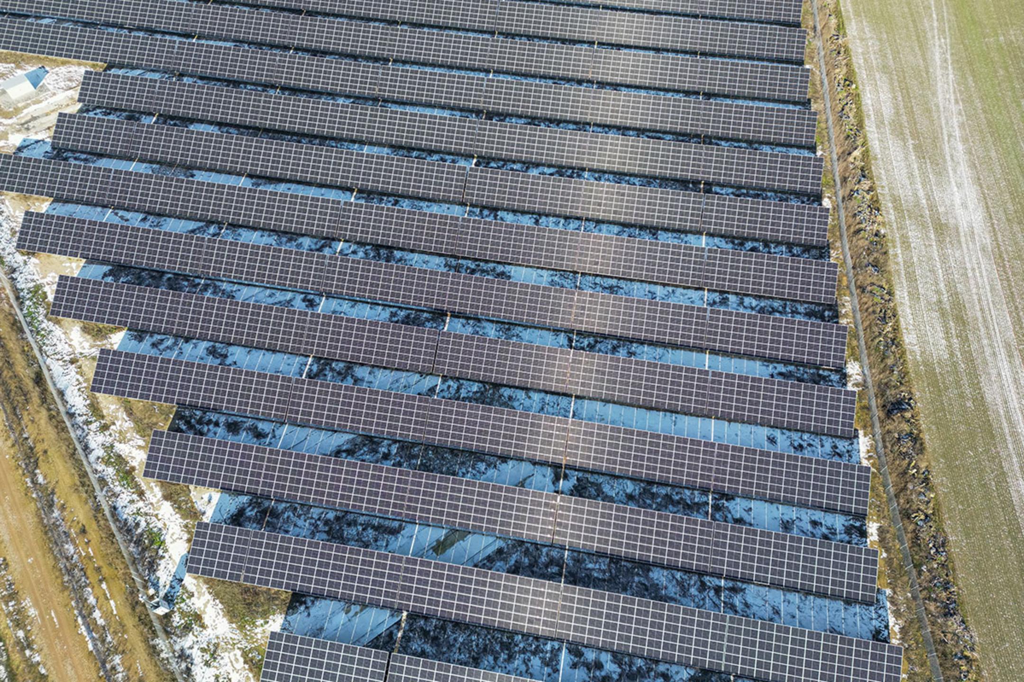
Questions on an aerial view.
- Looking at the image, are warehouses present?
No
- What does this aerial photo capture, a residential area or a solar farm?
solar farm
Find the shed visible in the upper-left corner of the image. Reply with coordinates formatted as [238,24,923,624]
[3,73,36,99]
